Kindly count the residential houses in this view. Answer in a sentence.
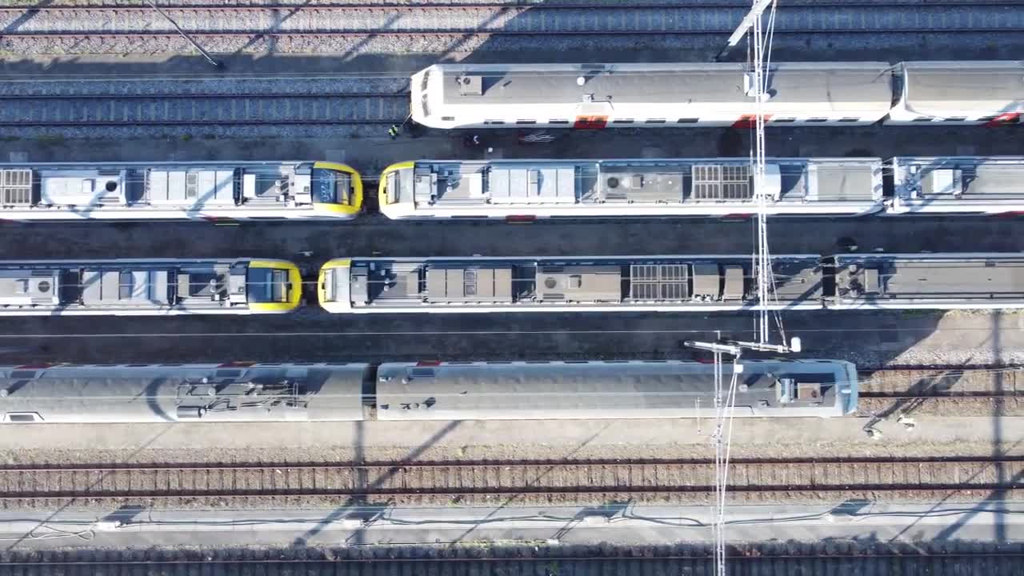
There are no residential houses in this view.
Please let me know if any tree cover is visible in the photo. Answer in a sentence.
No, there's no tree cover in this view.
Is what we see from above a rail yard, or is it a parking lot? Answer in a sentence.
The area seen from above is a rail yard.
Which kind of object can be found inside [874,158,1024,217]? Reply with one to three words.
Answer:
rail car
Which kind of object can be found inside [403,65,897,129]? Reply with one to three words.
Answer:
rail car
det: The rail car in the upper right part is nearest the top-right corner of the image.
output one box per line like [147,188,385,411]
[875,63,1024,129]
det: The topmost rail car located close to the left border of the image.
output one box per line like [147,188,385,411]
[0,162,365,222]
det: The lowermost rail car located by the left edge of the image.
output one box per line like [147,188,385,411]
[0,363,376,423]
